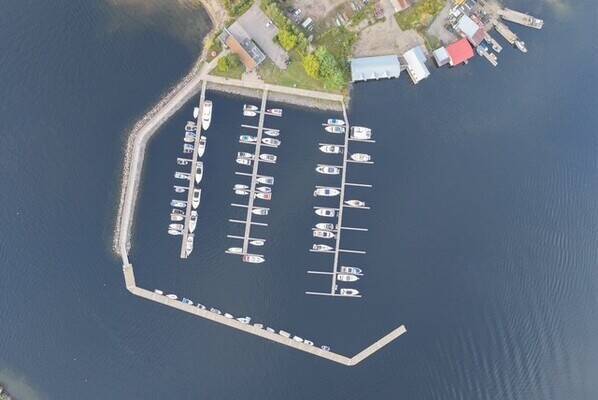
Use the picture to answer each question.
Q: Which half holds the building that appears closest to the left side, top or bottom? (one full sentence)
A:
Seen from above, the building that appears closest to the left side lies in the top half of the view.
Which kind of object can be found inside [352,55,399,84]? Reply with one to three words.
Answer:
building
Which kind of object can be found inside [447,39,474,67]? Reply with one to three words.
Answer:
building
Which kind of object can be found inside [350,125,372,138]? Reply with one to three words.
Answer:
boat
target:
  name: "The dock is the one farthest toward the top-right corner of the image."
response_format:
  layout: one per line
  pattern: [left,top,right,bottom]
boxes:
[502,8,534,27]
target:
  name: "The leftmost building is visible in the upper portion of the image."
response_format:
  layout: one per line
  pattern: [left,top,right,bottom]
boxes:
[219,30,266,71]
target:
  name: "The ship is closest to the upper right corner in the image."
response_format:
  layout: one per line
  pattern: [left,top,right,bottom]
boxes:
[533,16,545,29]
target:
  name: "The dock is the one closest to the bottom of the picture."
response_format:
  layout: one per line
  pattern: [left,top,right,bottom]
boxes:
[121,249,408,367]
